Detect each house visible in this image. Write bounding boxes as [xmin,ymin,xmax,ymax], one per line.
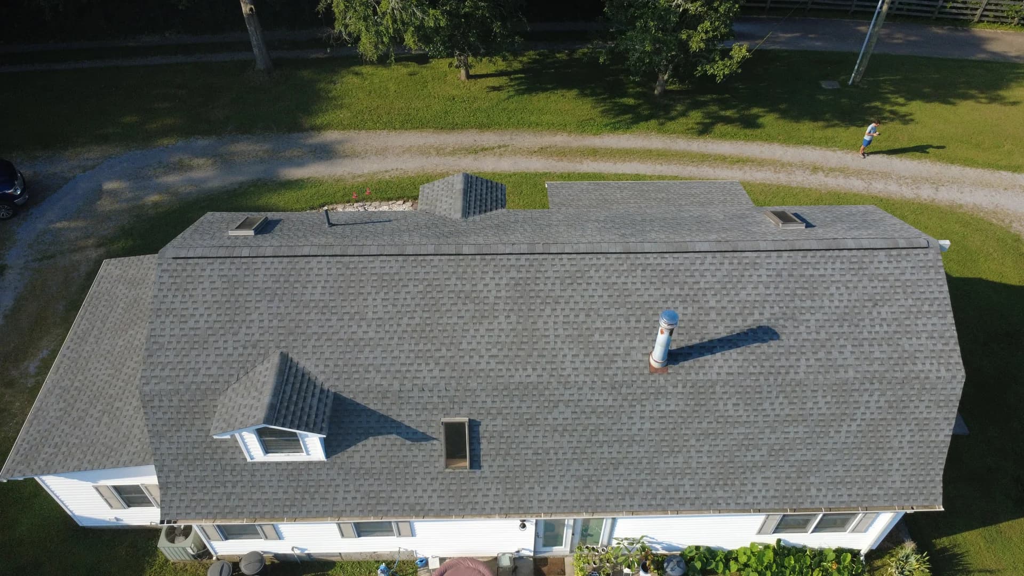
[0,168,966,567]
